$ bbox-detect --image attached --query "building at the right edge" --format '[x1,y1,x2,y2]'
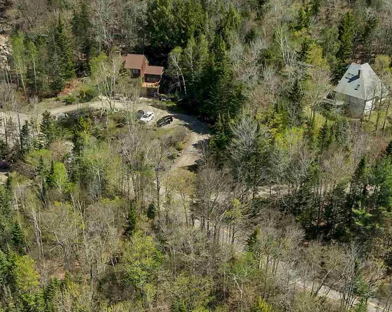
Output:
[328,61,390,115]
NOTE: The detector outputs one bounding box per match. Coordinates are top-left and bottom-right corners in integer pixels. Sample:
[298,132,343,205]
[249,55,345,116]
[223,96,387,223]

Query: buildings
[124,57,163,88]
[328,61,390,115]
